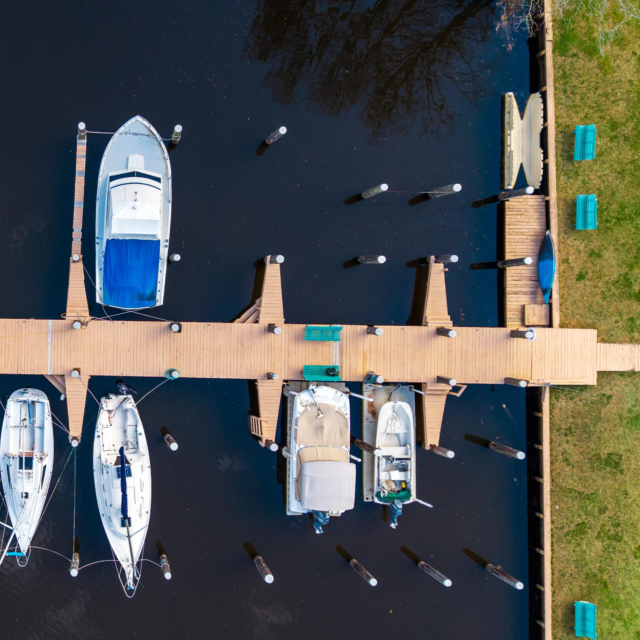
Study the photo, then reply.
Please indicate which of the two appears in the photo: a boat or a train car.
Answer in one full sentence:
Of the two, only a boat appears.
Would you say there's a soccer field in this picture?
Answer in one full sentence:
No, I can see no soccer field in this picture.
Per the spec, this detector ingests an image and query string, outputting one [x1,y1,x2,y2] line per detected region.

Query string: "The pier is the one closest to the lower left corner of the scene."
[42,375,88,439]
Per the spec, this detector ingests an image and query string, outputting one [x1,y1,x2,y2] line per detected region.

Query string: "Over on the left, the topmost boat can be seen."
[95,114,173,309]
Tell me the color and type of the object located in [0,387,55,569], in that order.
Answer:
white boat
